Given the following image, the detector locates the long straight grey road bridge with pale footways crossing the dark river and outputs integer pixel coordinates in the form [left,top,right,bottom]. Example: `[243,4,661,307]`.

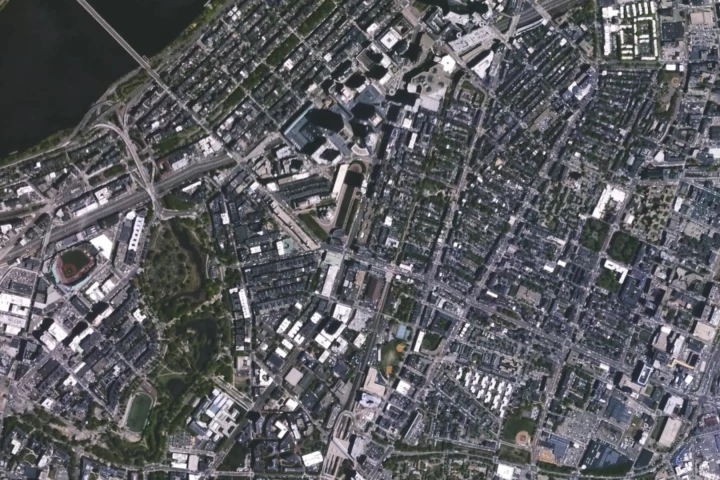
[76,0,159,81]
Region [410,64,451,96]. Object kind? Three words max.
building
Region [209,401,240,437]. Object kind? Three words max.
building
